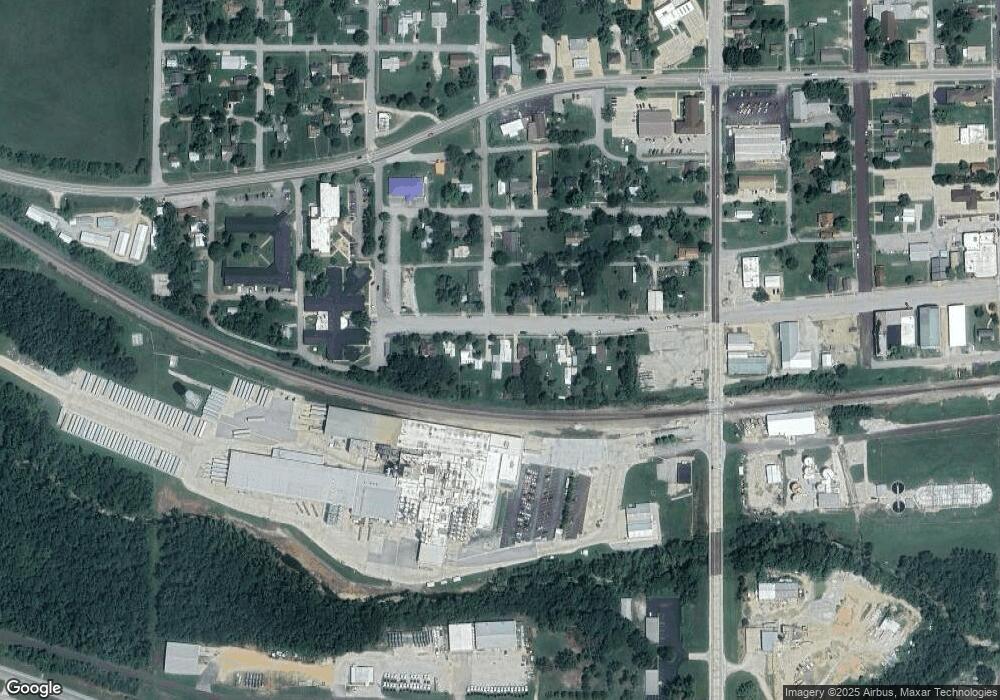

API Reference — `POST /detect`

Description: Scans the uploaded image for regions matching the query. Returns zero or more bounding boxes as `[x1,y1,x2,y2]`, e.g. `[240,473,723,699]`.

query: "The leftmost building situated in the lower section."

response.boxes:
[165,642,199,675]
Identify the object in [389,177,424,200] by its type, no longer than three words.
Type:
building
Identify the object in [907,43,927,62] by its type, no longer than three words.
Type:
house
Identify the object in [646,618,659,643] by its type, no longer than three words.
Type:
building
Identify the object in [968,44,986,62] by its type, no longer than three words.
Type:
house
